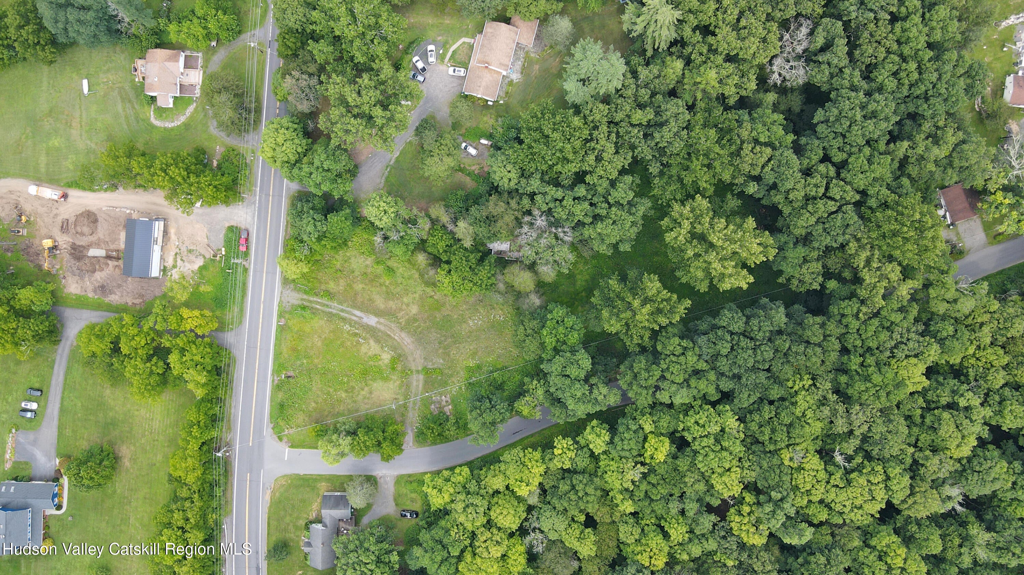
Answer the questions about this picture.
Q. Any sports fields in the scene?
No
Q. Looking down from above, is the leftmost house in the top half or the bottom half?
bottom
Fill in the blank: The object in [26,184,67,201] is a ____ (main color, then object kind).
white vehicle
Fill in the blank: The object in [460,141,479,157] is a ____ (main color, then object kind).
white car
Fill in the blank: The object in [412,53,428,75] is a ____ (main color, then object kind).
white vehicle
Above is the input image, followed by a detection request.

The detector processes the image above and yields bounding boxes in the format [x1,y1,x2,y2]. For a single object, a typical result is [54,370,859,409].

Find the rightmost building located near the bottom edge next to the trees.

[303,494,351,572]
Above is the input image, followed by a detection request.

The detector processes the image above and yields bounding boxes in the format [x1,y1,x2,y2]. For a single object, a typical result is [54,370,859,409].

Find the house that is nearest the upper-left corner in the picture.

[145,47,185,107]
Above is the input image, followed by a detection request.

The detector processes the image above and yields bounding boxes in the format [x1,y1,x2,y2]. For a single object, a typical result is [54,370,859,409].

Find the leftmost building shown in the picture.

[0,482,59,557]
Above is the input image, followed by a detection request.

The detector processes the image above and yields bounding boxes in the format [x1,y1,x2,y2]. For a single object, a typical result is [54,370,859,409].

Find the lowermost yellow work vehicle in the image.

[39,239,61,274]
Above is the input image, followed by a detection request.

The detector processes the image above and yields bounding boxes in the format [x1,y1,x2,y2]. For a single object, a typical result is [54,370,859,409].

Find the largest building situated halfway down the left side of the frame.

[124,218,166,276]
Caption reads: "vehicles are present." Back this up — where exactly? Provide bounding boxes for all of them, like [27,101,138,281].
[415,71,427,83]
[460,141,479,157]
[12,206,28,224]
[19,401,39,410]
[427,44,436,64]
[26,184,67,201]
[16,409,37,420]
[448,66,467,75]
[400,510,418,519]
[24,388,43,397]
[39,239,61,274]
[412,53,428,75]
[238,229,248,251]
[9,228,26,236]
